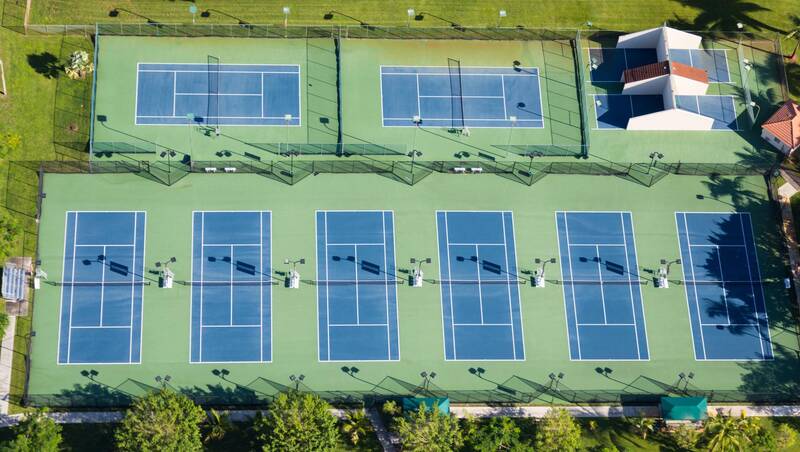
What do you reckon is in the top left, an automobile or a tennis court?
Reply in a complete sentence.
There is a tennis court in the top left.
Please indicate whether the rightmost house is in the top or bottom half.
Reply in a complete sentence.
Seen from above, the rightmost house lies in the top half of the view.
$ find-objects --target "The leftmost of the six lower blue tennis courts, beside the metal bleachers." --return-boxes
[59,212,145,361]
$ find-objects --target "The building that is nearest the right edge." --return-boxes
[762,94,800,157]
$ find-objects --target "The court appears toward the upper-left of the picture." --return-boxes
[136,64,299,126]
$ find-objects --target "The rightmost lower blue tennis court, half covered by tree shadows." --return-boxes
[674,211,775,361]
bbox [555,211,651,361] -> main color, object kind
blue tennis court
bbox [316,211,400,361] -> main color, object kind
blue tennis court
